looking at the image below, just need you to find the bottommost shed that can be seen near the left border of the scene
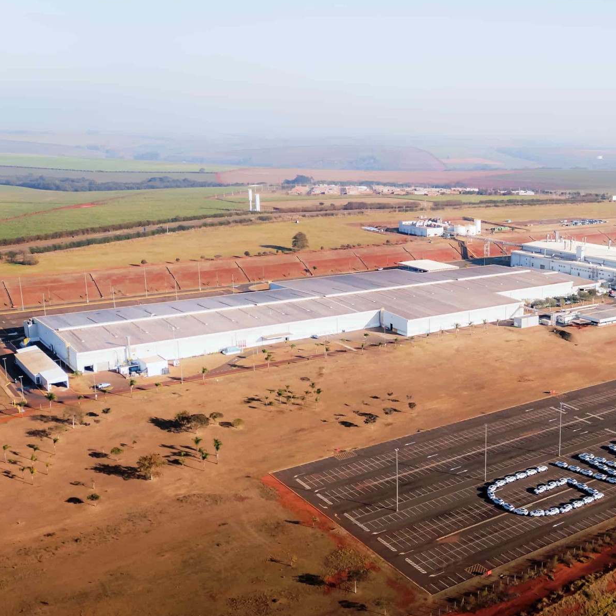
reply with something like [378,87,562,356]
[14,346,70,392]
